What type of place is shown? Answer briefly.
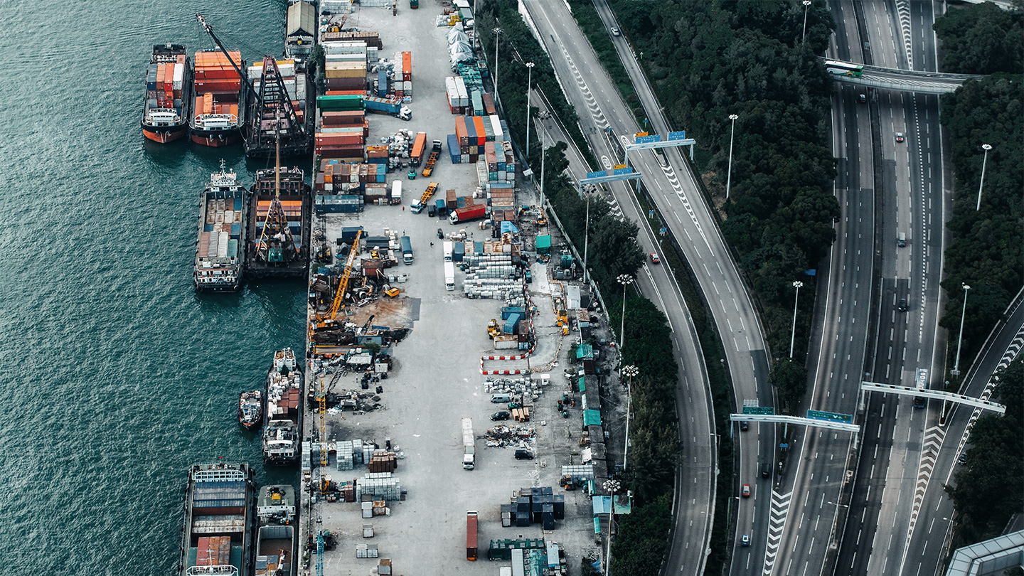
port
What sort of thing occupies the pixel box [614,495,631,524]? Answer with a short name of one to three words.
shed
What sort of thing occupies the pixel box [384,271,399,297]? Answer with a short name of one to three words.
work vehicle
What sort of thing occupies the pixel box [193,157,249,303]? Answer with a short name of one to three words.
ship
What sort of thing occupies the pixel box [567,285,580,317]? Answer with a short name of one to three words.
shed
